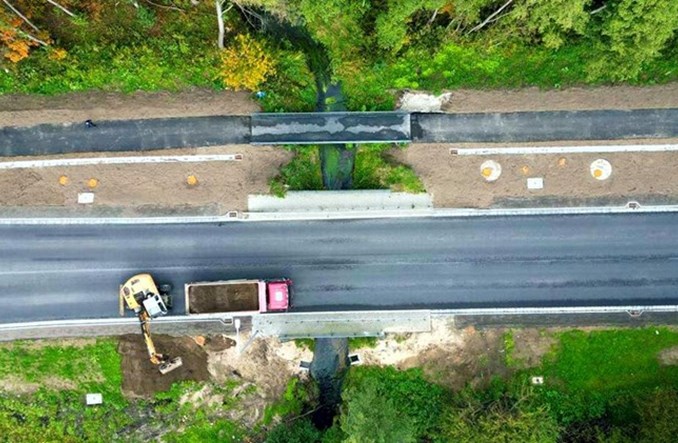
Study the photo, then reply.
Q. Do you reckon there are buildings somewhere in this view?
No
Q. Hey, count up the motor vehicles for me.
2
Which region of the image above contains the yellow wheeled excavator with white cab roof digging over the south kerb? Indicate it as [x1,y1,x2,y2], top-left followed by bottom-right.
[117,272,183,374]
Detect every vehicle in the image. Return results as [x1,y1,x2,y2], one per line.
[181,276,295,317]
[117,272,183,374]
